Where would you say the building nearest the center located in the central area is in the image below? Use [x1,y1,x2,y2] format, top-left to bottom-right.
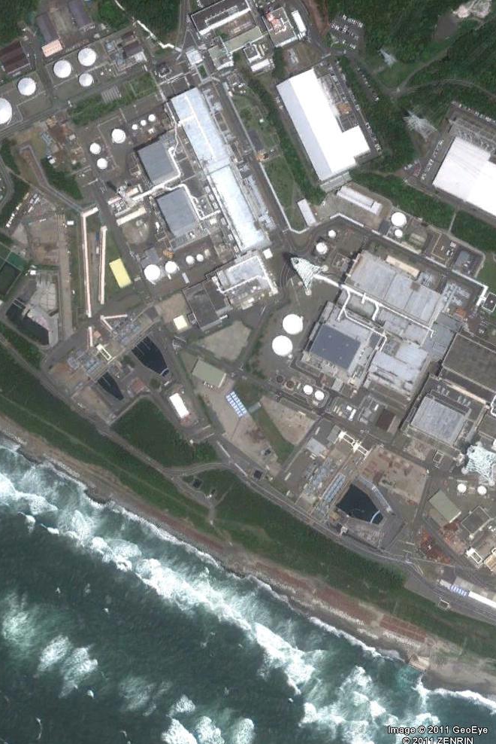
[193,359,228,390]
